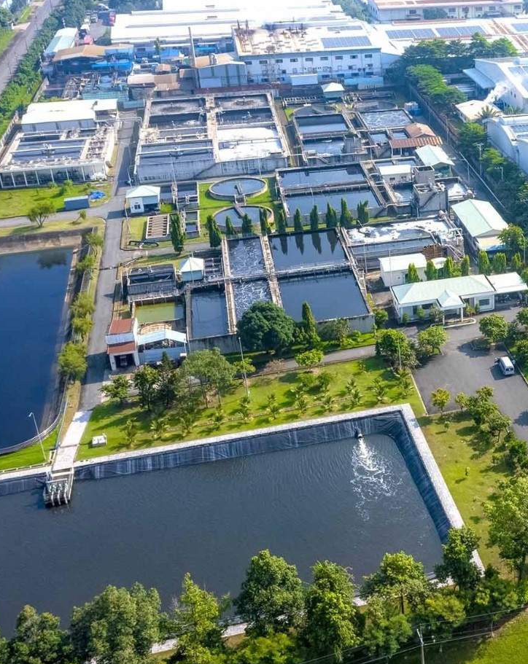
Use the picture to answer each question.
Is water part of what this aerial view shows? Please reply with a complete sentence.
Yes, there's water in this view.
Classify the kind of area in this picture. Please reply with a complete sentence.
This looks like an industrial area.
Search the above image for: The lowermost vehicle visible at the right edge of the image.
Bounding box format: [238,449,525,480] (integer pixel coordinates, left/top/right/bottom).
[495,359,512,376]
